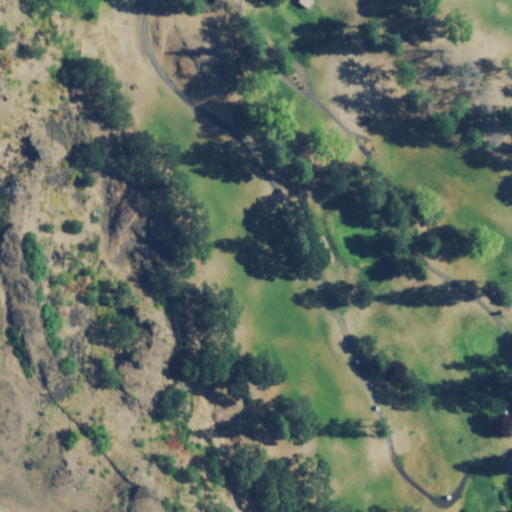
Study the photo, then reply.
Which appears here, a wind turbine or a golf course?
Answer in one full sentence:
Looking from above, you can make out a golf course.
